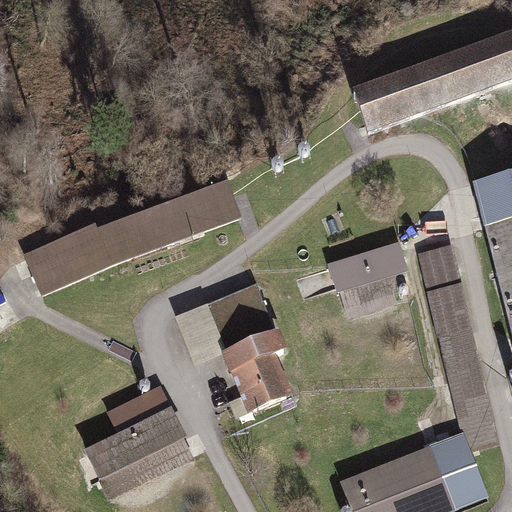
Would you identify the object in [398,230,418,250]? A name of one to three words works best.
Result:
work vehicle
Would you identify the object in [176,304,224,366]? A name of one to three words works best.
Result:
building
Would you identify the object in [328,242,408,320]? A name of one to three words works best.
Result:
house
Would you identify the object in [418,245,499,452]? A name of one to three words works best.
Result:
shed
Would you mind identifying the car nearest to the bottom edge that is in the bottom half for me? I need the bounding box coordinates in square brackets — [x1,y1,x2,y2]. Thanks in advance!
[208,382,226,410]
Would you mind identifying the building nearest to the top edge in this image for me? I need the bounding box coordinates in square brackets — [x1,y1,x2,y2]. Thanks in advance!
[353,29,512,137]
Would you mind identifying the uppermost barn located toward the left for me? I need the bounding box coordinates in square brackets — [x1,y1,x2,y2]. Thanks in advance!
[24,180,242,298]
